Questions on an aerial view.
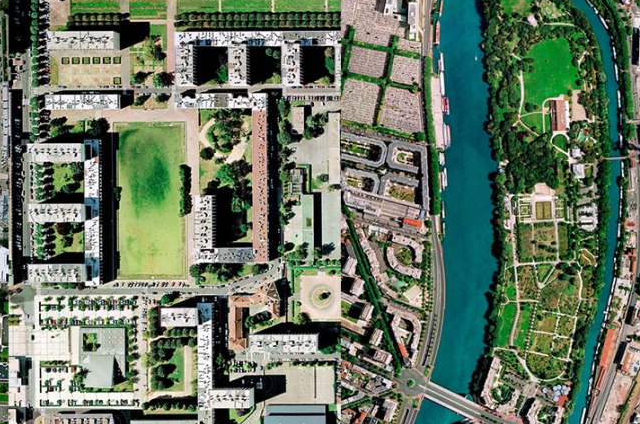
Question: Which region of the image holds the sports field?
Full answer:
The sports field is in the left part of the image.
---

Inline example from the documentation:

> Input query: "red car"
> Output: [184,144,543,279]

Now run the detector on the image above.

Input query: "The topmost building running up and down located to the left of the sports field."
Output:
[85,140,104,286]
